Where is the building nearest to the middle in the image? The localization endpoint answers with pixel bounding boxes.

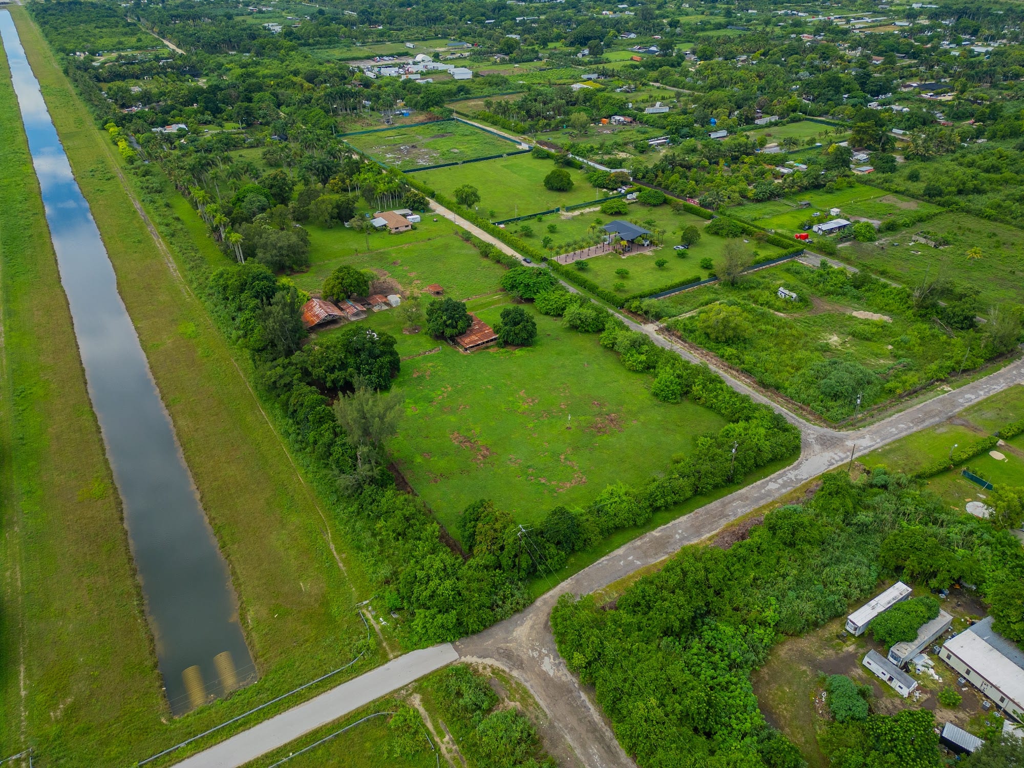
[441,311,500,356]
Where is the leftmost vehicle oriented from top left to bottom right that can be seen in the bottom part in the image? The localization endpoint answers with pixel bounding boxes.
[864,646,919,702]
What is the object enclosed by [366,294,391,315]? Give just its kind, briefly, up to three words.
shed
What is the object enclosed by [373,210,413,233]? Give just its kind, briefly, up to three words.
house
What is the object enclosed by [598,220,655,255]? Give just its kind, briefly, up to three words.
building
